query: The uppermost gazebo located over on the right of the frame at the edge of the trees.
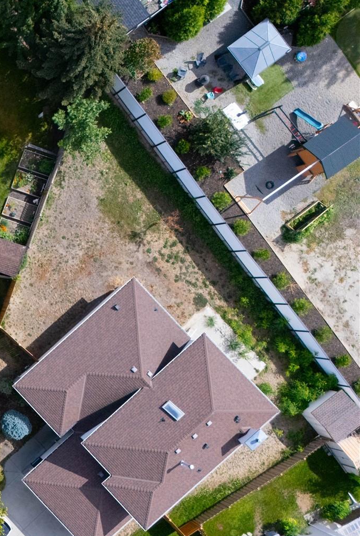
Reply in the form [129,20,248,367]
[213,19,293,86]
